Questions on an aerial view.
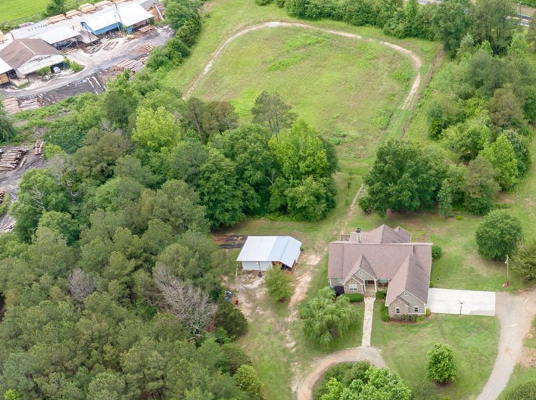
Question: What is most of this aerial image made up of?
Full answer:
The bulk of the photo consists of trees.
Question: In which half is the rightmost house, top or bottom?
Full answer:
The rightmost house sits in the bottom half of the picture.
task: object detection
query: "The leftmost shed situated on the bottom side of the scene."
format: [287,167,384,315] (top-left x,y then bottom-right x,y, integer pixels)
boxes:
[235,236,303,272]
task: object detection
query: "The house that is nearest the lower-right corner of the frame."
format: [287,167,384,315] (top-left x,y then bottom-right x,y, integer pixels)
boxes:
[327,224,435,322]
